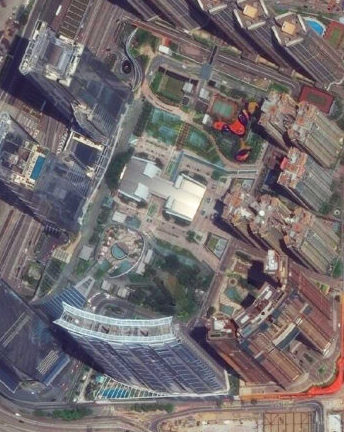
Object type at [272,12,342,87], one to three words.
building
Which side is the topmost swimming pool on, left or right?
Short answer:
right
